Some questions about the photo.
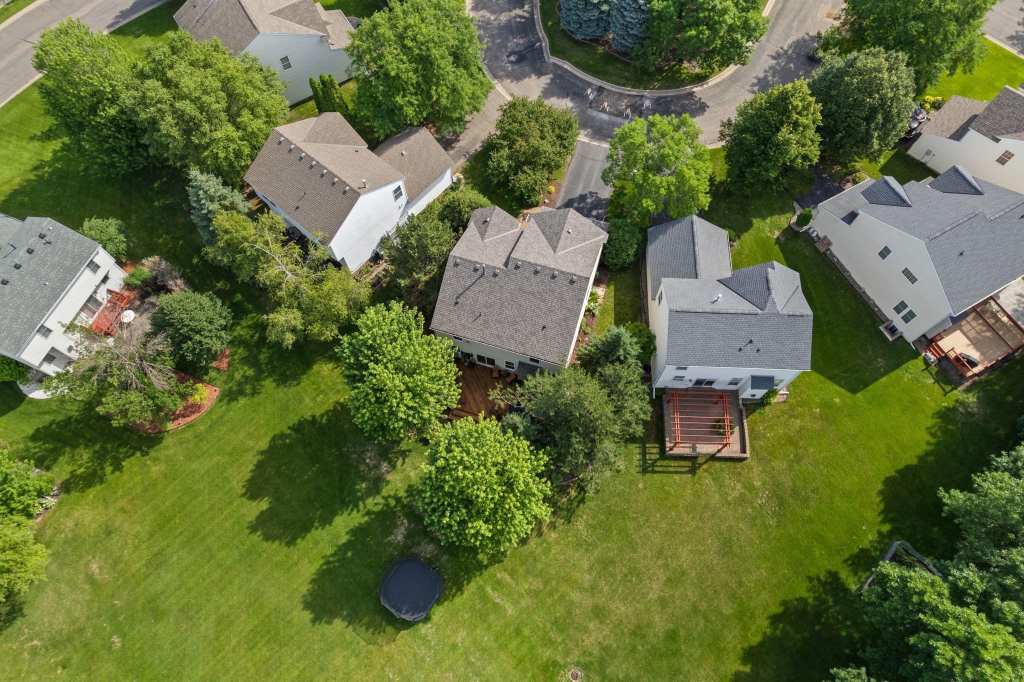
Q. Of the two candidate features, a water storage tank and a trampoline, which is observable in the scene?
trampoline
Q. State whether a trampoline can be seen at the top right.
No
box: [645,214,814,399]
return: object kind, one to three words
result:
house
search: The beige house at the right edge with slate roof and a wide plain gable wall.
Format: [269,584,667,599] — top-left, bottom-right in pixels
[803,159,1024,353]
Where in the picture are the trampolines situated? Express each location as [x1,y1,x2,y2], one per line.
[375,555,445,625]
